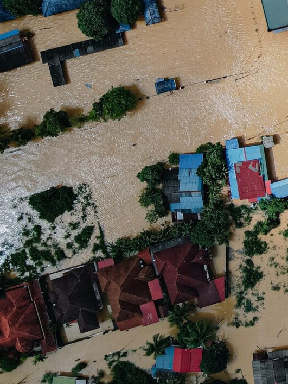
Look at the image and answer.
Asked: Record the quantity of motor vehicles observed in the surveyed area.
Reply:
none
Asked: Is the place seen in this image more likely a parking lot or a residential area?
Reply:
residential area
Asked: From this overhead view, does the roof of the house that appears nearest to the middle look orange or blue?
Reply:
blue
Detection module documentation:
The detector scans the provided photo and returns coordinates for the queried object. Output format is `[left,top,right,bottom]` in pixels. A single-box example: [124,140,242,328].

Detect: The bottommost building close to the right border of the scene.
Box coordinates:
[252,346,288,384]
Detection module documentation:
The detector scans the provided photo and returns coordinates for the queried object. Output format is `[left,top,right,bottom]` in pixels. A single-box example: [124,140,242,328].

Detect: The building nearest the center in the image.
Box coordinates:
[163,153,206,222]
